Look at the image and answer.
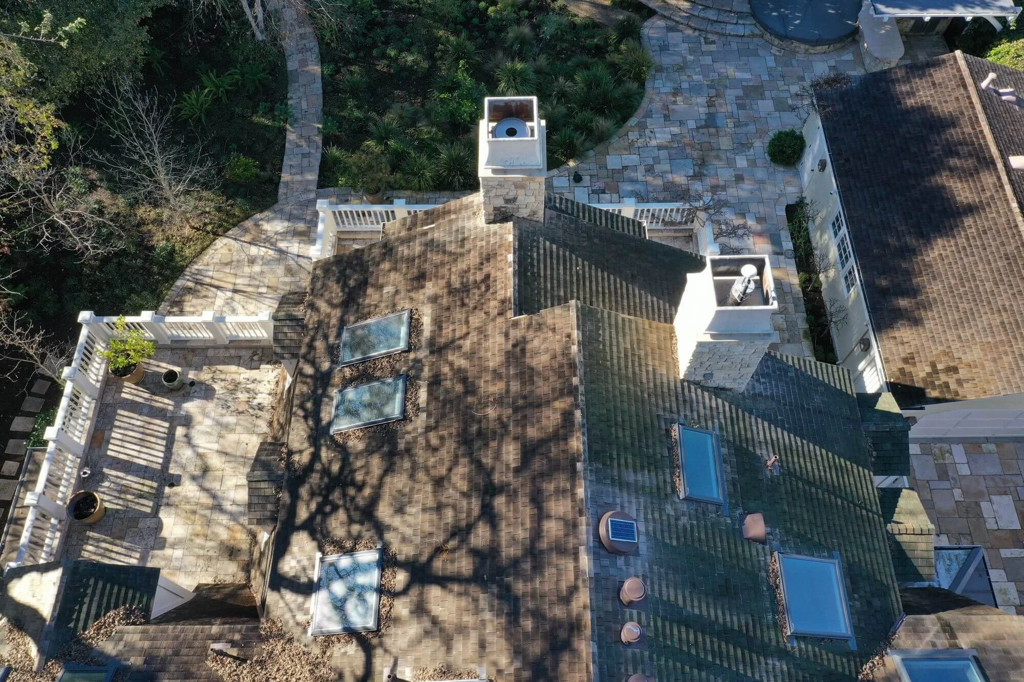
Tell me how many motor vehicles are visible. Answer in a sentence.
There are no motor vehicles in the image.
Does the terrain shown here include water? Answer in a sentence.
No, there is no water in the image.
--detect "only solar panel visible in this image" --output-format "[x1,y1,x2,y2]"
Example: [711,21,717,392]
[611,511,640,537]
